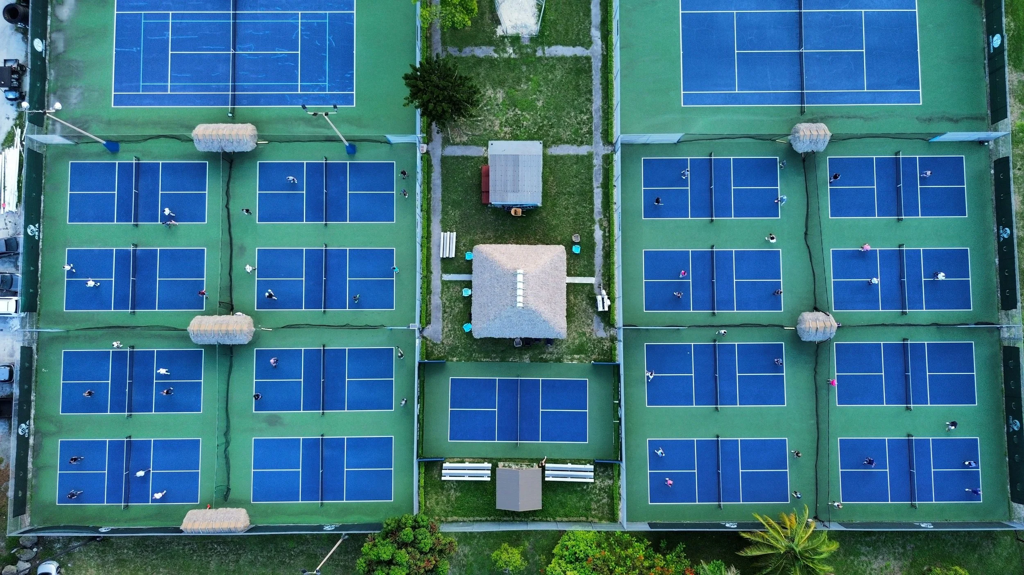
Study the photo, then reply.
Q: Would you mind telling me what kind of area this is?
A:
sports ground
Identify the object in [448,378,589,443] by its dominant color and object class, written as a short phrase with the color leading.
blue sports court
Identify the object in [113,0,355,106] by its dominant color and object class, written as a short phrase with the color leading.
blue tennis court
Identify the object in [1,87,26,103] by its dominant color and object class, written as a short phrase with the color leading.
blue work vehicle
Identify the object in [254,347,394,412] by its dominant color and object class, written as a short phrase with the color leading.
blue sports court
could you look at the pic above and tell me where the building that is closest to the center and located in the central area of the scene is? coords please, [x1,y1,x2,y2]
[471,244,568,340]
